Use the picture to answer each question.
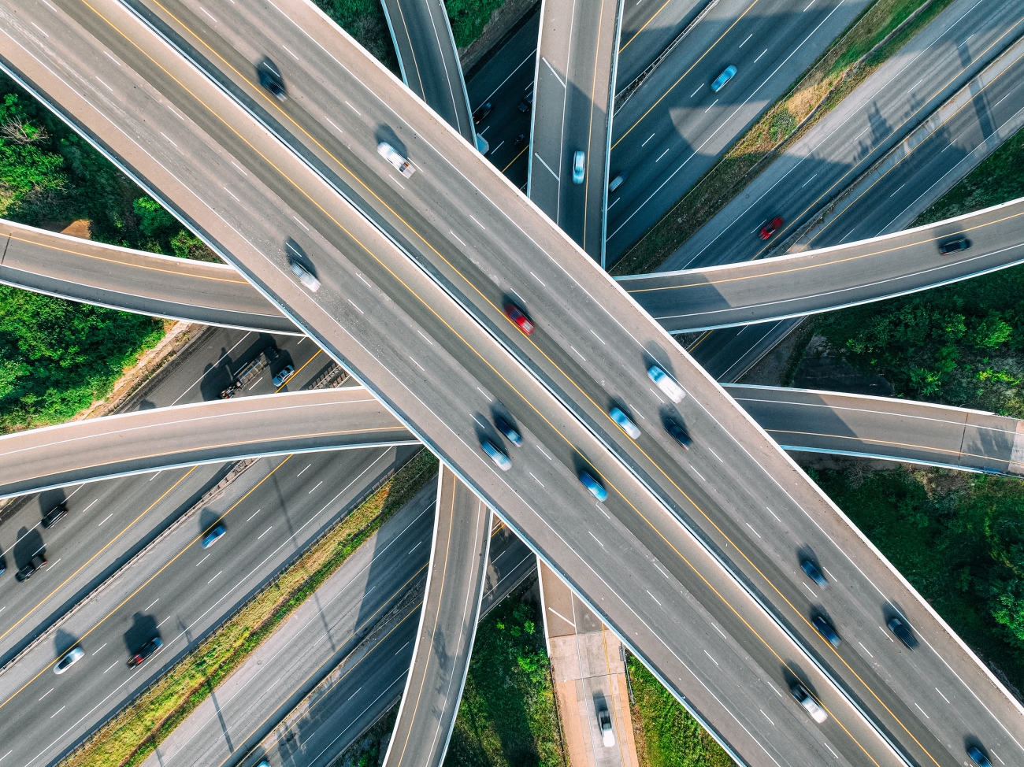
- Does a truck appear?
Yes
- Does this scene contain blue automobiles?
Yes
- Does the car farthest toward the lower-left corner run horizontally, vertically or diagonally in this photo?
diagonally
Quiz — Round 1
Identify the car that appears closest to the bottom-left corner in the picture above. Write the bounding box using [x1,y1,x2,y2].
[55,647,84,673]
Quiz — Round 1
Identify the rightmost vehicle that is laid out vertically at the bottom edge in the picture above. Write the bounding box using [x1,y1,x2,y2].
[596,704,614,744]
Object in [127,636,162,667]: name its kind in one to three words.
truck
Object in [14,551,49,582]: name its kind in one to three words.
truck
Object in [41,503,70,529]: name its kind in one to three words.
car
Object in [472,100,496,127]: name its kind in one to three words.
car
